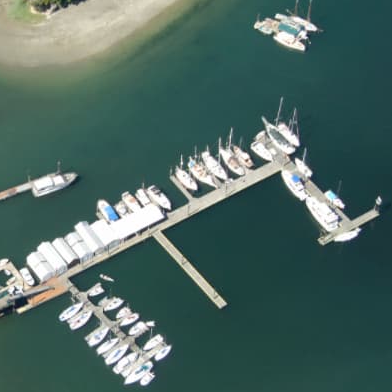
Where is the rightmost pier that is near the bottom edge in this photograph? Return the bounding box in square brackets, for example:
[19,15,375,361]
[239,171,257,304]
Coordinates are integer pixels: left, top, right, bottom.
[74,288,167,377]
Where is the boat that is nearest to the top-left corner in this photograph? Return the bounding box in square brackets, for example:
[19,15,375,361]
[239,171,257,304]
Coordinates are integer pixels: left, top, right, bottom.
[32,163,77,198]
